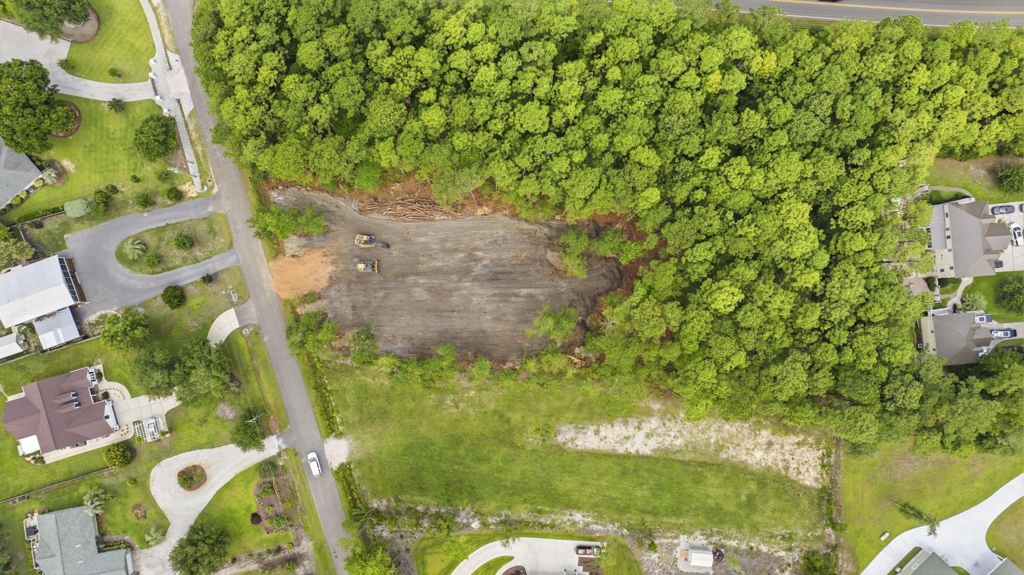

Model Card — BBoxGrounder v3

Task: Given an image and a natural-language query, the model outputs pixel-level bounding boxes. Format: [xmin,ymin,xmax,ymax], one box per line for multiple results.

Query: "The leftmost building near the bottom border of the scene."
[20,503,136,575]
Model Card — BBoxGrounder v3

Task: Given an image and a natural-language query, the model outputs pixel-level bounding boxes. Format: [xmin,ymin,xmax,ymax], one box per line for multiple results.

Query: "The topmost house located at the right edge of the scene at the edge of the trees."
[923,197,1013,277]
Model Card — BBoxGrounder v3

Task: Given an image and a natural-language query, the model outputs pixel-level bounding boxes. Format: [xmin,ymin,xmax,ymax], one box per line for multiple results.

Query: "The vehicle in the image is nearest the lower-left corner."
[306,450,322,478]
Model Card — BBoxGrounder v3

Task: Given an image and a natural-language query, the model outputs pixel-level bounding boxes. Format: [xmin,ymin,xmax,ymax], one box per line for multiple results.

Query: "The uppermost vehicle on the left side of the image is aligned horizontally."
[357,234,390,249]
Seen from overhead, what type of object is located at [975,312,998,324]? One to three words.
vehicle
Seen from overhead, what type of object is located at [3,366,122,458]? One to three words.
house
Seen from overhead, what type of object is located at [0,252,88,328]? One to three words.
barn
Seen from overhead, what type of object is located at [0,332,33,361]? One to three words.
shed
